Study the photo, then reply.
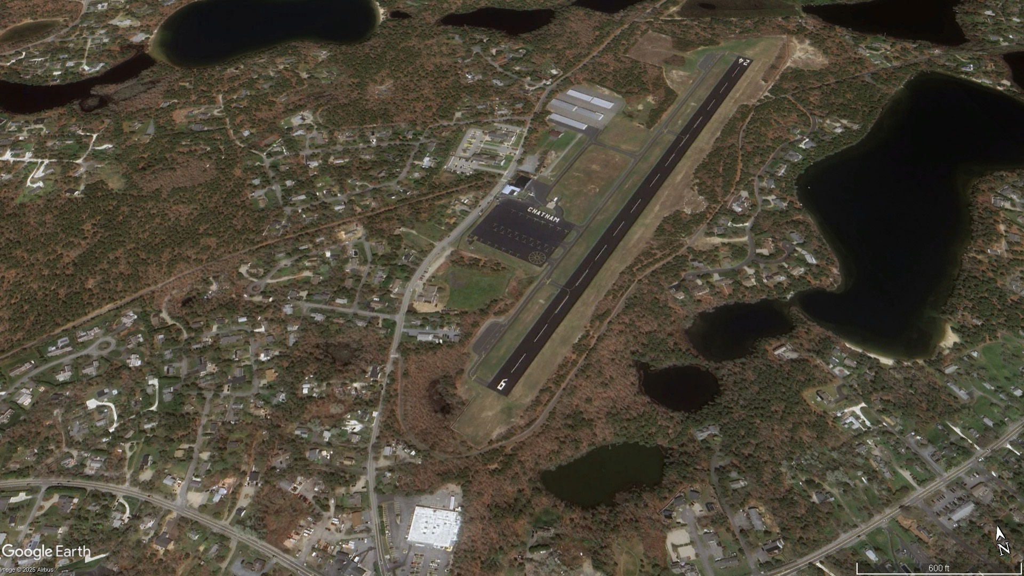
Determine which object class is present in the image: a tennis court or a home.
home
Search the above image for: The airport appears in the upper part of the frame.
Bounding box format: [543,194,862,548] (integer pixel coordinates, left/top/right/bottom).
[467,50,753,396]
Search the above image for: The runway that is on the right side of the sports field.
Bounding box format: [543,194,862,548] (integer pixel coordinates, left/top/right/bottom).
[487,55,753,396]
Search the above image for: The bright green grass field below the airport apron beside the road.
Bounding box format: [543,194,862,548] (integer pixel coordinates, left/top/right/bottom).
[446,269,510,310]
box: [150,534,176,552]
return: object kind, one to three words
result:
house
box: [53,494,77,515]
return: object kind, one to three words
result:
house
